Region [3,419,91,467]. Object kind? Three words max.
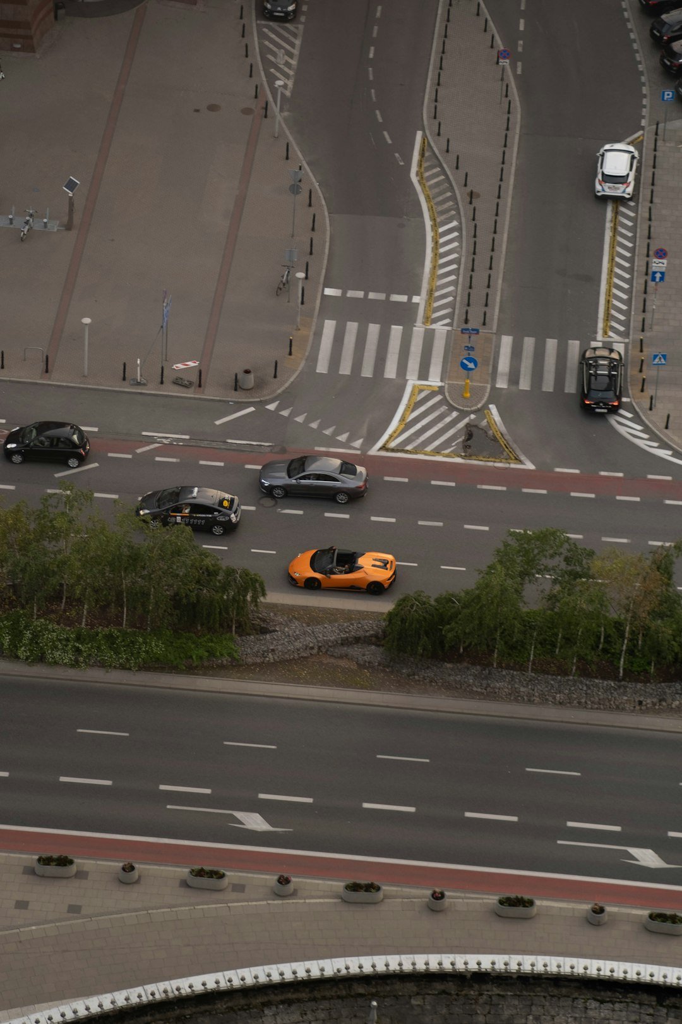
car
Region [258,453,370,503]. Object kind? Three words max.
car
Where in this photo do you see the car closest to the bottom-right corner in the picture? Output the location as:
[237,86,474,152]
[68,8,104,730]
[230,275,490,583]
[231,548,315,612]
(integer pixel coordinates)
[291,543,399,595]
